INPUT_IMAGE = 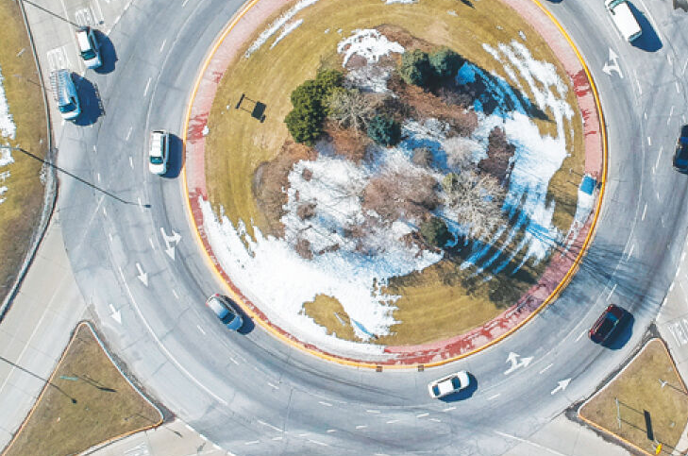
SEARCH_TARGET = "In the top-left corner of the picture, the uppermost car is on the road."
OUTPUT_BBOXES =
[73,24,102,70]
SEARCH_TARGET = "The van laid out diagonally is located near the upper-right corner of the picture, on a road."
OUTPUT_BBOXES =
[606,0,643,42]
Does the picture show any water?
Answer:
No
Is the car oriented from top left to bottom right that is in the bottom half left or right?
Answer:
left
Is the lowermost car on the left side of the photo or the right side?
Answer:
right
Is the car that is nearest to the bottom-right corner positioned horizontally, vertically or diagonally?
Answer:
diagonally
